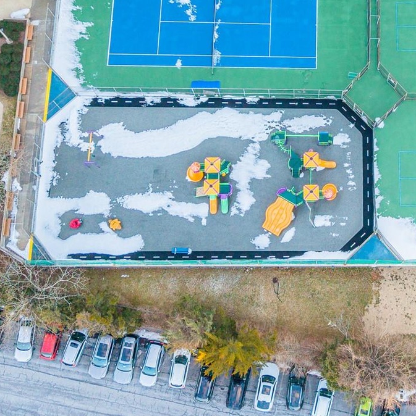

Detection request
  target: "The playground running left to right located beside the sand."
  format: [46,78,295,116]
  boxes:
[34,96,373,260]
